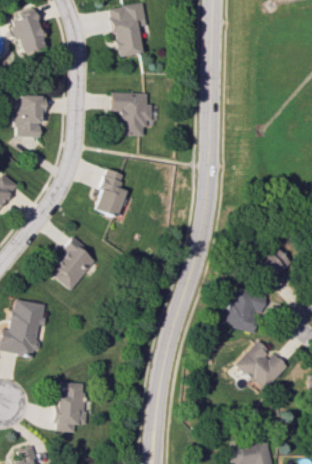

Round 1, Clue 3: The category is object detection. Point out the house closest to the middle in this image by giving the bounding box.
[97,170,126,216]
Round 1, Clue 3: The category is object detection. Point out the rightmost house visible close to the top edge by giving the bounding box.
[108,2,148,58]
